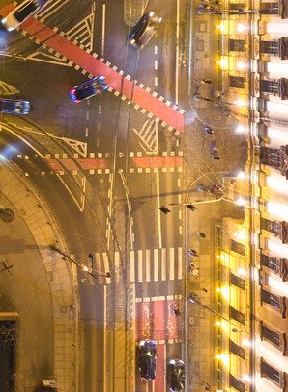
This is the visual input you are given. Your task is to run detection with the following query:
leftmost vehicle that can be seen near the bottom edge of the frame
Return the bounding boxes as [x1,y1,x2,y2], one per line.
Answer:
[139,341,160,384]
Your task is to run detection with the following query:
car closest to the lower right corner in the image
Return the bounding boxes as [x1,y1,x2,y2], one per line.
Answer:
[169,356,191,392]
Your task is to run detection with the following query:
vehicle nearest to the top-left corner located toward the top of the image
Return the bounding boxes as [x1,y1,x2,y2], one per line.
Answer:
[5,0,43,30]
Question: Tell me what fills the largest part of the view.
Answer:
paved ground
